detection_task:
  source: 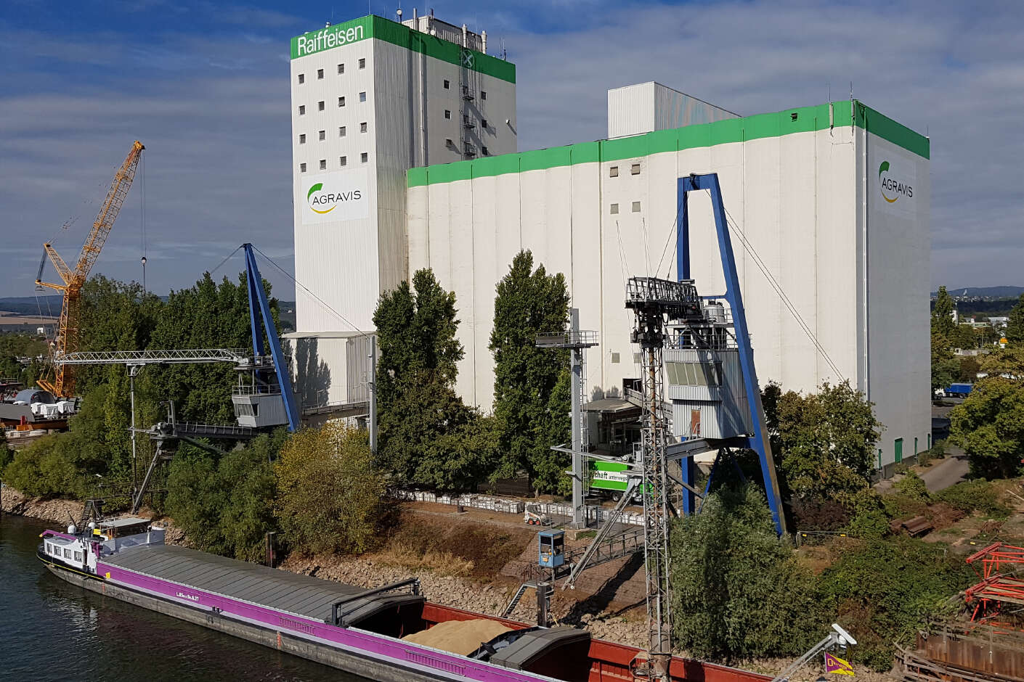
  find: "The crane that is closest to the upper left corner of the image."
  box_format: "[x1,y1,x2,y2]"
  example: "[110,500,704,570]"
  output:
[33,140,147,399]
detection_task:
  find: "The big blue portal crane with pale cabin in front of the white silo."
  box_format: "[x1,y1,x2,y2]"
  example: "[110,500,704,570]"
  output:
[612,173,834,682]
